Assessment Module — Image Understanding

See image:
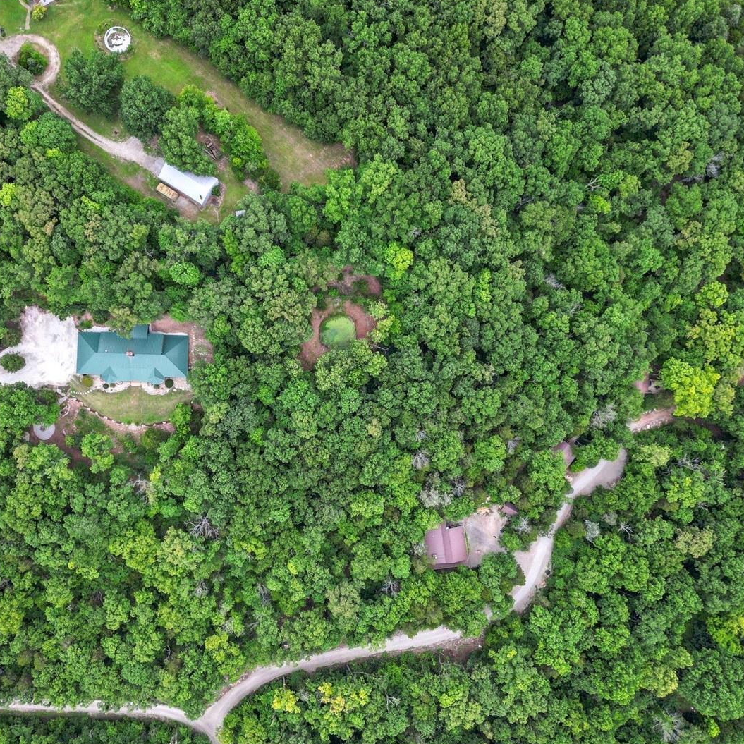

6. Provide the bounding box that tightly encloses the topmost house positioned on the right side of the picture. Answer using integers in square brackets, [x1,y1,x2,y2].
[632,371,665,395]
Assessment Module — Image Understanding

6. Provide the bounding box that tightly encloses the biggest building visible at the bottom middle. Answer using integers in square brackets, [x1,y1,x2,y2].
[427,522,467,570]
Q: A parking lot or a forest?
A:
forest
